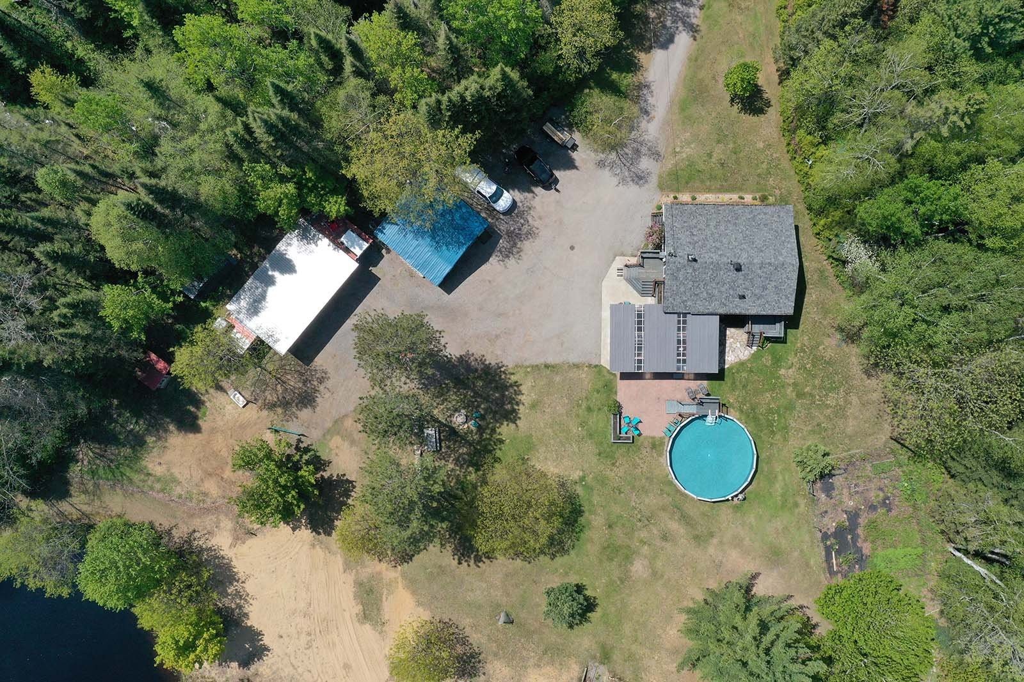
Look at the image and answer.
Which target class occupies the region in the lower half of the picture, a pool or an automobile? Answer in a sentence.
The one visible in the lower half of the picture is a pool.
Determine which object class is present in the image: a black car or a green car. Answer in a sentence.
Of the two, only a black car appears.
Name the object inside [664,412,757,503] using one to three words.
swimming pool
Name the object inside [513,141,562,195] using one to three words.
car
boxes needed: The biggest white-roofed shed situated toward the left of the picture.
[230,219,361,356]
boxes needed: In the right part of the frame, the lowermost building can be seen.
[608,304,719,373]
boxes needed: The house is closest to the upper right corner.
[661,203,799,316]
